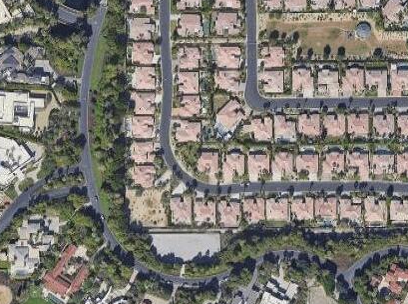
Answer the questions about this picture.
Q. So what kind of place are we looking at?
residential area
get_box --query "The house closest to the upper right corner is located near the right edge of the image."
[383,0,408,22]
